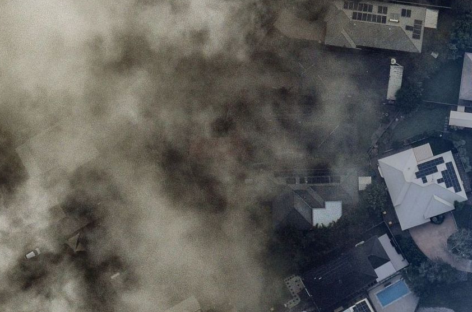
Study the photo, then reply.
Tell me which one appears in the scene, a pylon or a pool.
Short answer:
pool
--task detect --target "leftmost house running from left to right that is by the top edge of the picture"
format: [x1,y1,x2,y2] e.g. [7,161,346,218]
[325,0,426,53]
